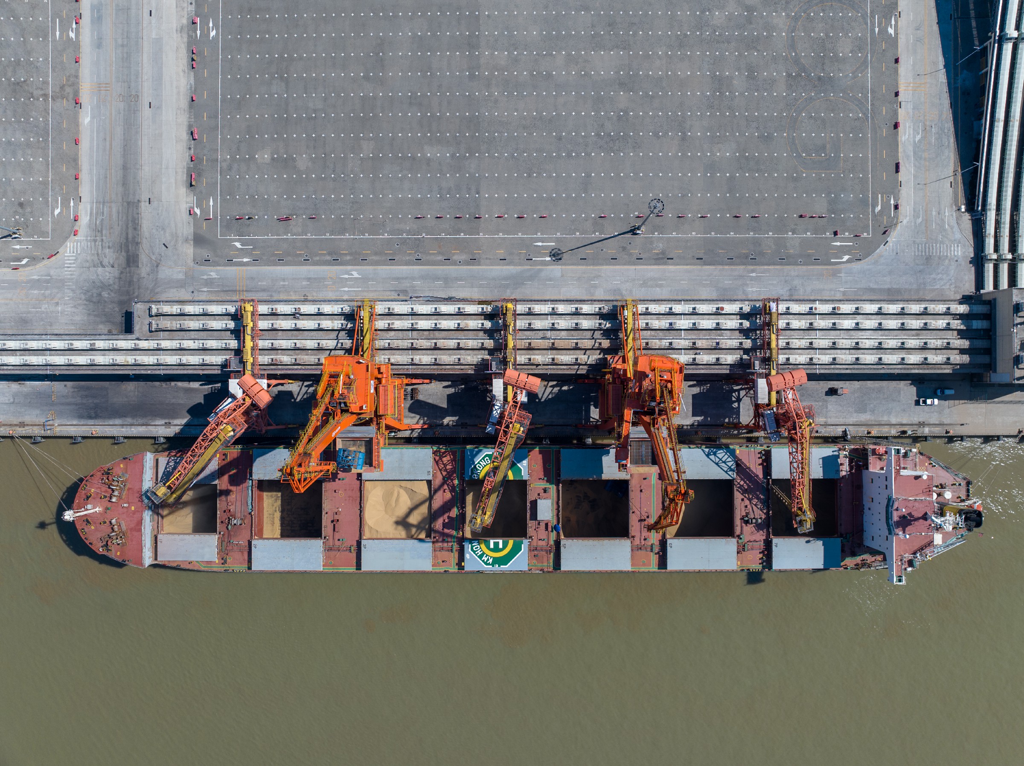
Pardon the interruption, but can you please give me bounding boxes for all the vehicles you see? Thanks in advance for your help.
[920,399,940,406]
[938,388,959,396]
[828,387,852,395]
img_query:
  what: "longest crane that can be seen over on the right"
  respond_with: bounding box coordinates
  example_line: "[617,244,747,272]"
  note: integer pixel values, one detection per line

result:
[572,297,695,537]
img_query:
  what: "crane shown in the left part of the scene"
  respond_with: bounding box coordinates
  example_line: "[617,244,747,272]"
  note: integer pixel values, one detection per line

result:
[276,297,432,494]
